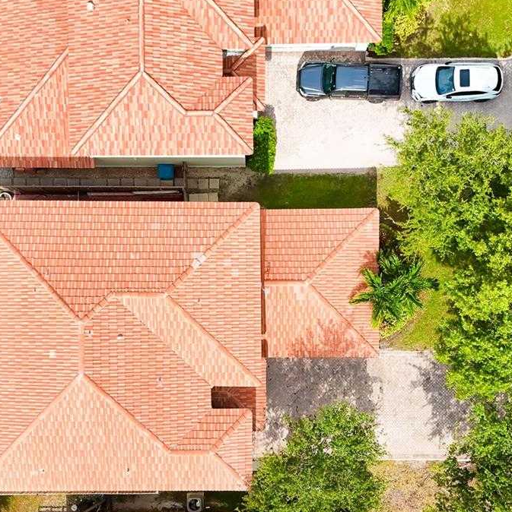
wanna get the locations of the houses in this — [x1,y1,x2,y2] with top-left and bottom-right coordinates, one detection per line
[0,0,384,169]
[0,198,381,494]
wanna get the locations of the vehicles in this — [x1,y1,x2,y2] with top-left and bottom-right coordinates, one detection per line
[297,57,404,105]
[410,57,504,105]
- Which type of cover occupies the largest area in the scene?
buildings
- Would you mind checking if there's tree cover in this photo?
Yes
